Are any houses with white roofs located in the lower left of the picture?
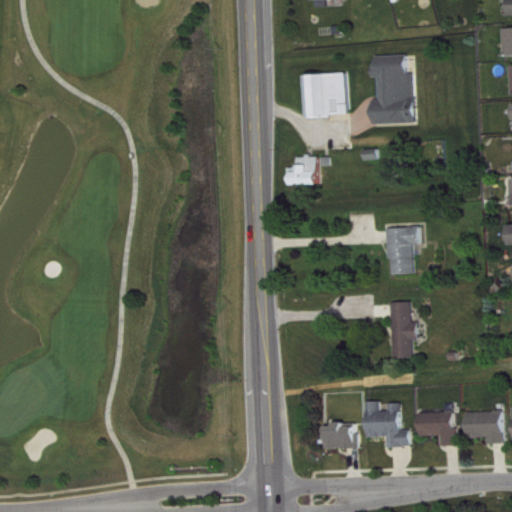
No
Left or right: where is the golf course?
left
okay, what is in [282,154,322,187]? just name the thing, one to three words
house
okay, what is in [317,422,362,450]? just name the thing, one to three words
house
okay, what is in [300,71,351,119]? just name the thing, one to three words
building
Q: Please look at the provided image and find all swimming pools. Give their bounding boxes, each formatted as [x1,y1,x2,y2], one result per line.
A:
[490,64,505,78]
